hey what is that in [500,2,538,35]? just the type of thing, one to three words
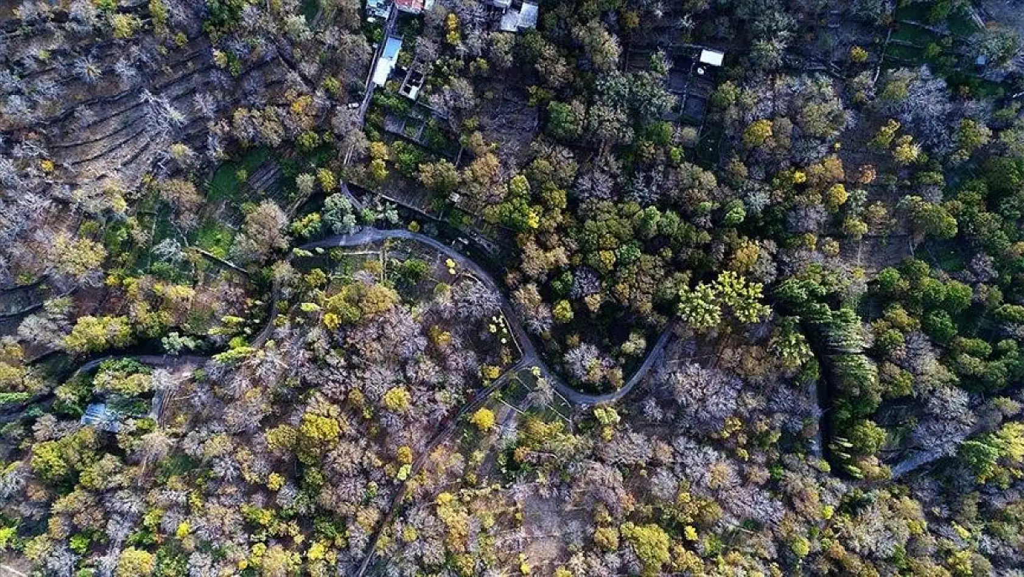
house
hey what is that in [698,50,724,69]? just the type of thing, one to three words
house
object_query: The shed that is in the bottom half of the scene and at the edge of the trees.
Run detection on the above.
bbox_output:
[81,402,122,432]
